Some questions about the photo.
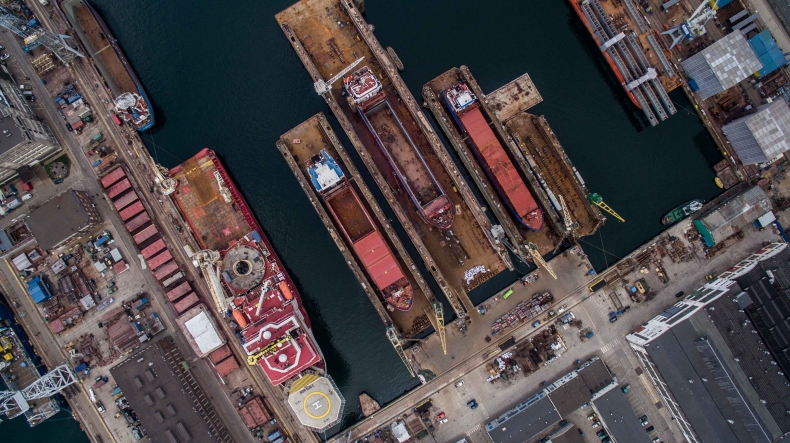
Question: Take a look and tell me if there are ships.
Yes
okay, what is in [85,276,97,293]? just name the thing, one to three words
vehicle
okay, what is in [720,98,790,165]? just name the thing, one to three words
shed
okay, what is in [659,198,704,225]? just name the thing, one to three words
boat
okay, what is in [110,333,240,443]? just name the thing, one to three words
building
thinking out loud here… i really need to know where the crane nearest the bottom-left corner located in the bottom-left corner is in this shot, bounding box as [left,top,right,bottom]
[0,364,79,420]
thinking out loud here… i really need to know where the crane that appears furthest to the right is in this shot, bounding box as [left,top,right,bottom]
[659,0,718,51]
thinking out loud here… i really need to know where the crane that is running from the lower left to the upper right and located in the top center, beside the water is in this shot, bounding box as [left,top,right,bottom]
[309,56,366,100]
